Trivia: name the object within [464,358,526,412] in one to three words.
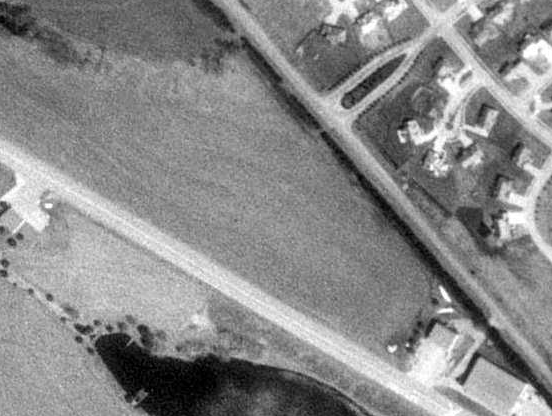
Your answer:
hangar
